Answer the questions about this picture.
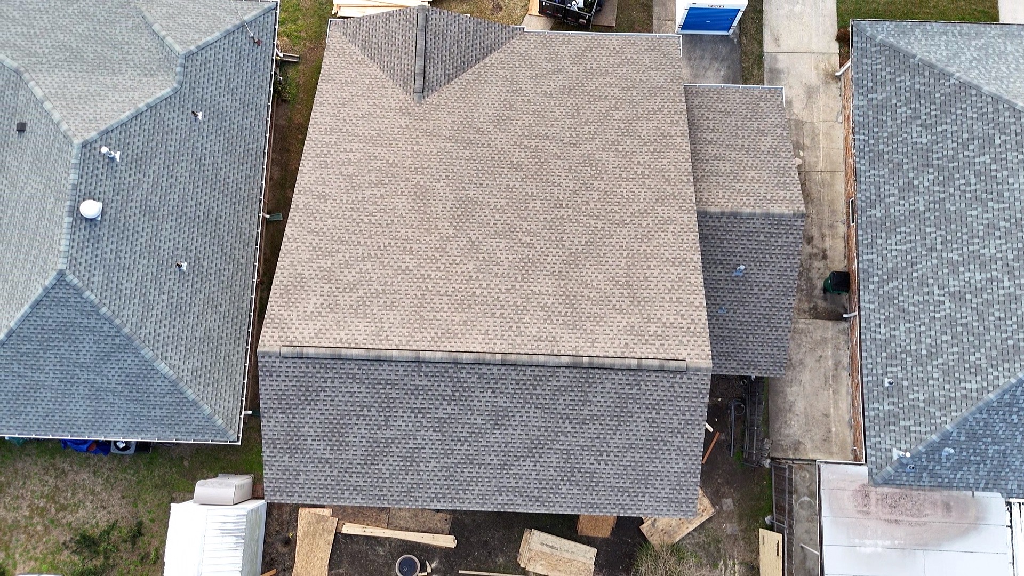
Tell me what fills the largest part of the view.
buildings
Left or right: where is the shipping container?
right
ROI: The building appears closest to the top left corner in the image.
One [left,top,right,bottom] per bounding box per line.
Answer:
[0,0,286,447]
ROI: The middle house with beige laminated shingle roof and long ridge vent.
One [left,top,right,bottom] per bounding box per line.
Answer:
[262,5,805,518]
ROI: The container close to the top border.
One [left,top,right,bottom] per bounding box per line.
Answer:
[675,0,750,34]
